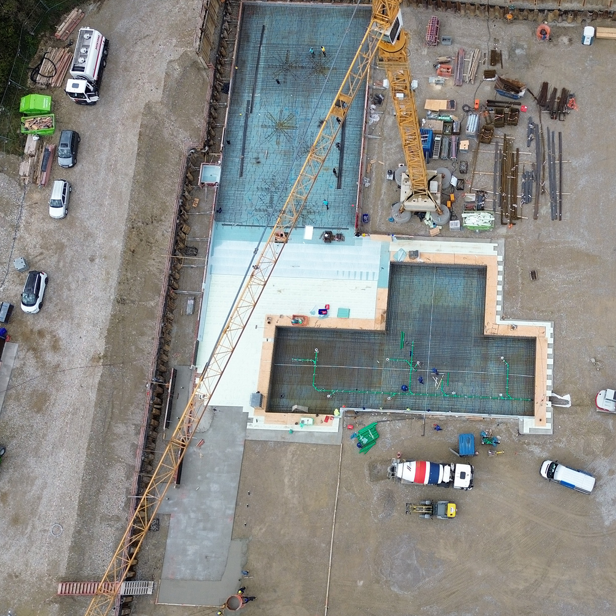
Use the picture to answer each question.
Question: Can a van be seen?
Yes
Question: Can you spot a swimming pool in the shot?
No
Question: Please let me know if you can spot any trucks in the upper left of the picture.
Yes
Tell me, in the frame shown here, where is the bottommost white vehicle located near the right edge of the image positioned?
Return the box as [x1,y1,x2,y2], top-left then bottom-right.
[538,459,599,497]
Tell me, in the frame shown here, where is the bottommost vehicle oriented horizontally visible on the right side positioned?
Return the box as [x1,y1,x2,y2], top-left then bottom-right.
[402,500,456,521]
